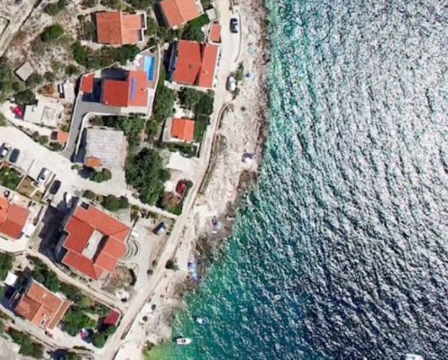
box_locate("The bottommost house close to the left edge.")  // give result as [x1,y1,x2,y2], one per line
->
[12,274,70,331]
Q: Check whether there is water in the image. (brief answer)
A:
Yes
